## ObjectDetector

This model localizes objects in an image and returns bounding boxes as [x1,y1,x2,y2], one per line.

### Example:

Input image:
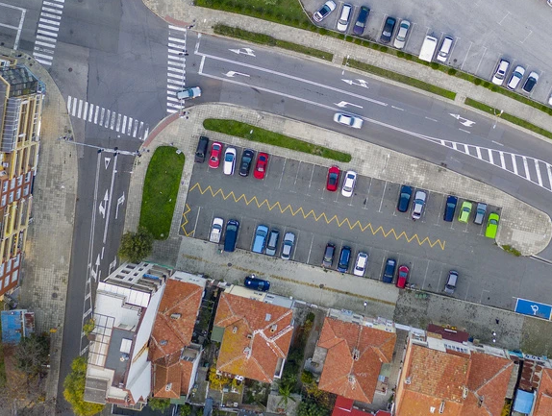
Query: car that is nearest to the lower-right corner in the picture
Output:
[445,269,457,293]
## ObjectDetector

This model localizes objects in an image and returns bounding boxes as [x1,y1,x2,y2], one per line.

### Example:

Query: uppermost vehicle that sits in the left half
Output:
[175,85,204,100]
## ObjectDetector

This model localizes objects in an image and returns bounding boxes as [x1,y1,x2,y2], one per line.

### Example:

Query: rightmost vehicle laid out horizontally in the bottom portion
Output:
[242,275,271,291]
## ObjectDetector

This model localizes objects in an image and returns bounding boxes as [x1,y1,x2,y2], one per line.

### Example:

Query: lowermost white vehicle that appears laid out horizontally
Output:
[333,113,363,127]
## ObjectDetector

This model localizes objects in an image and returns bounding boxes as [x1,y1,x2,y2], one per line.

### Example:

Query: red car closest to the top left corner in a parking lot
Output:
[207,140,223,168]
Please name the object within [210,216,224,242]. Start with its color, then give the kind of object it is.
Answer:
white car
